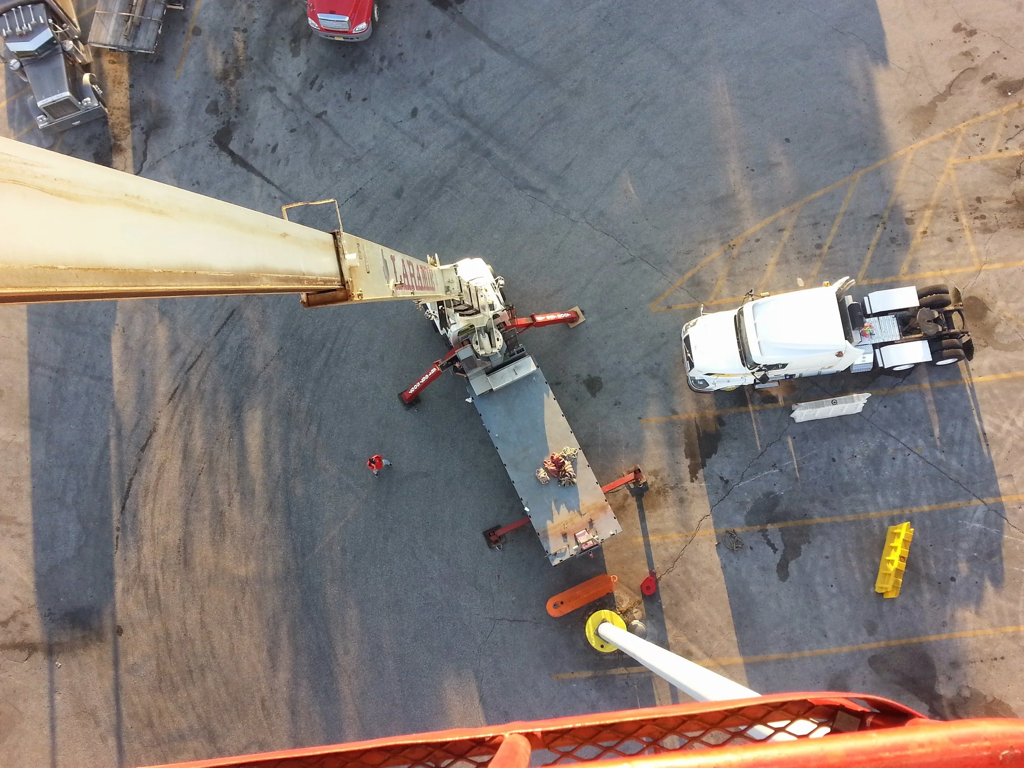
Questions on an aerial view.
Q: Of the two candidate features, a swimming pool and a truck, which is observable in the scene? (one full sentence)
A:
Visible in the photo is a truck.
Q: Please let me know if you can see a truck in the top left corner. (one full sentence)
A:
Yes, in the top left corner there is a truck.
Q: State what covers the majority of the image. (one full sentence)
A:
Most of the picture is covered by paved ground.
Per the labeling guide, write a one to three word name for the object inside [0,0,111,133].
truck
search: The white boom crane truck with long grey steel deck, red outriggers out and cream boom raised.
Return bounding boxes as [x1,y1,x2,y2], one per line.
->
[0,121,643,567]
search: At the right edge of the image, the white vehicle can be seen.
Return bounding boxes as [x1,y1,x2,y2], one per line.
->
[671,276,974,396]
